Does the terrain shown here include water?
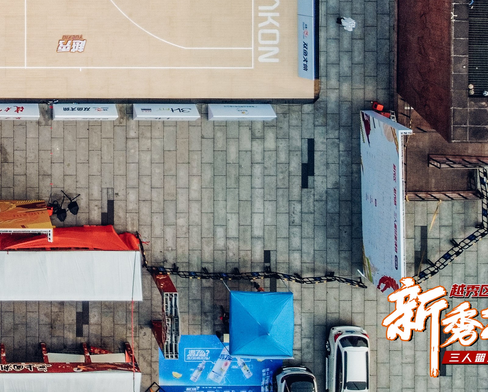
No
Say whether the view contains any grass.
No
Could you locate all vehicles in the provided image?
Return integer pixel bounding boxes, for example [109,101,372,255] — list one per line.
[274,362,317,392]
[326,325,376,392]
